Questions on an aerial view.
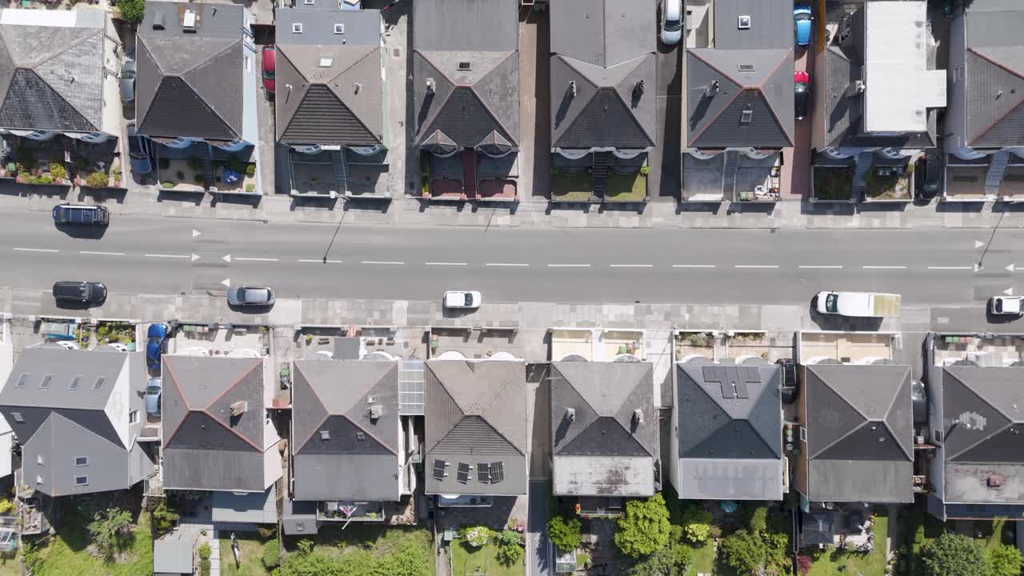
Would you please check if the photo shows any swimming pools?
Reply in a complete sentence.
No, no swimming pool can be seen from above.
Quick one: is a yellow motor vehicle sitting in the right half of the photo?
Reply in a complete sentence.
No, in the right half of the photo there is no yellow motor vehicle.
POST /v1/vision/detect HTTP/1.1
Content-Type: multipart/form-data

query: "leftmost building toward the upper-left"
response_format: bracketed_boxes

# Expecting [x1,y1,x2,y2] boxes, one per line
[0,7,121,144]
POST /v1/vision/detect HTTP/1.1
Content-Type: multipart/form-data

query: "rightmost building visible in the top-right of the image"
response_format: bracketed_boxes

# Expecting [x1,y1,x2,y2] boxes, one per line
[946,0,1024,159]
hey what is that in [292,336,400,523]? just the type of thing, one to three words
house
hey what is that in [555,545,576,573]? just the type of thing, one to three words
greenhouse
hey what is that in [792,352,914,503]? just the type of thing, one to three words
house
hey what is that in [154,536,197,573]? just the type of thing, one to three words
shed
